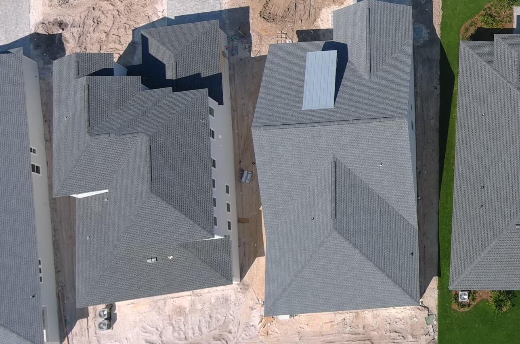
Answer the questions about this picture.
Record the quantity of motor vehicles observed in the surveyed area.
zero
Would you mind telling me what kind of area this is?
residential area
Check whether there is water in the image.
No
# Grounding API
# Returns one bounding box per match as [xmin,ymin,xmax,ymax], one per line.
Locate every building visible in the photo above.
[0,47,61,344]
[449,31,520,291]
[251,0,421,317]
[54,19,240,309]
